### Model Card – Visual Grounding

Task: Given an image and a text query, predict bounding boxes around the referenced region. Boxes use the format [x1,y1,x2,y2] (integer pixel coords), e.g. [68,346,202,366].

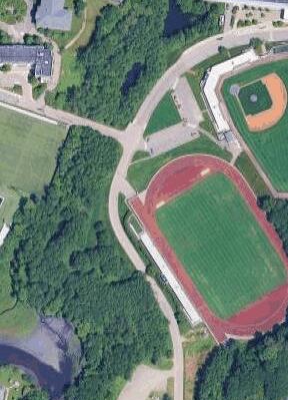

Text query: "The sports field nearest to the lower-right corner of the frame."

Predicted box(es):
[155,174,288,321]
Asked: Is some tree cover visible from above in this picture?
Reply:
Yes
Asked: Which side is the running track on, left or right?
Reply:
right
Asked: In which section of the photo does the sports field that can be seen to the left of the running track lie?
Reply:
left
